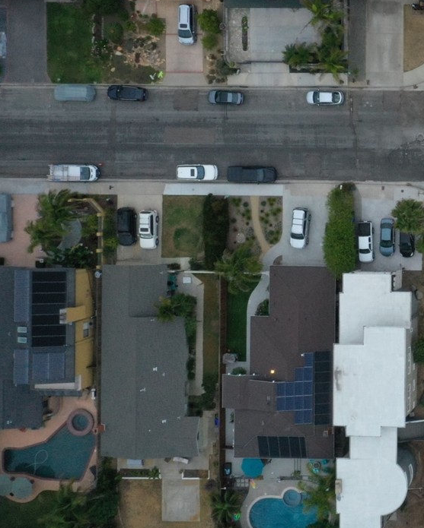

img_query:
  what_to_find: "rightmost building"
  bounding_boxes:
[333,266,424,528]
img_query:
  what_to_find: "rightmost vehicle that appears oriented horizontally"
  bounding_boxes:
[308,89,344,106]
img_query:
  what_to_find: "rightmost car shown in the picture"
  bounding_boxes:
[398,229,416,260]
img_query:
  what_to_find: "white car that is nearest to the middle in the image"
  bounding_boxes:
[140,210,160,247]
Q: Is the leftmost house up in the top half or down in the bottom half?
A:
bottom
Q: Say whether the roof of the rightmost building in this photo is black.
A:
No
